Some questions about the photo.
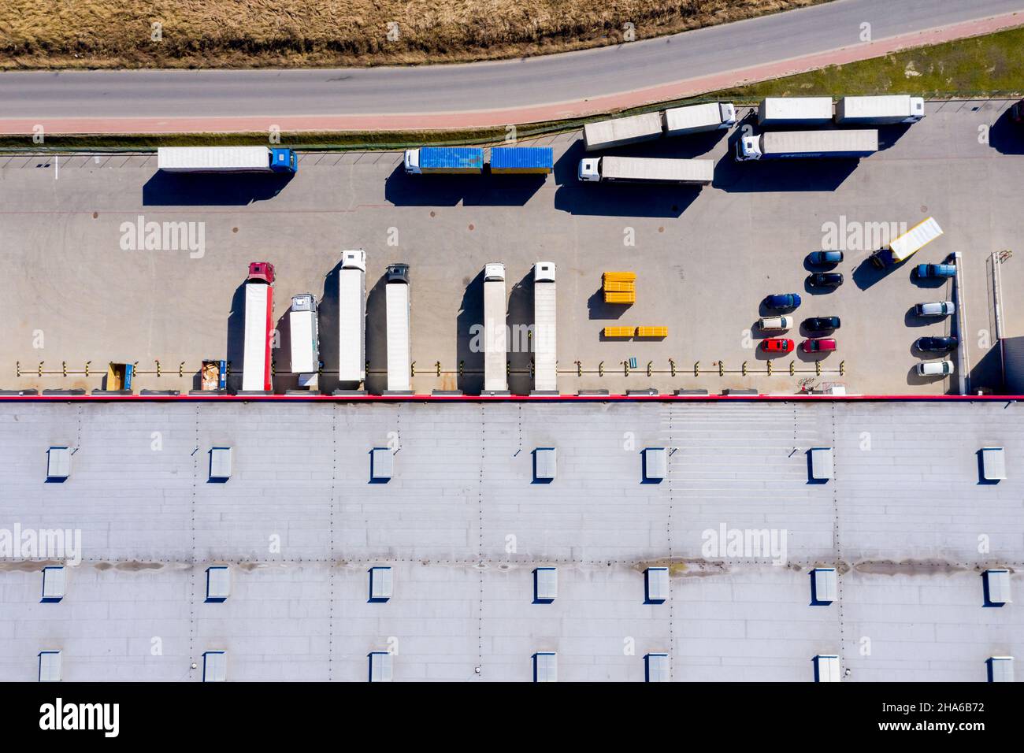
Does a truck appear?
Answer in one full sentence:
Yes, there's a truck here.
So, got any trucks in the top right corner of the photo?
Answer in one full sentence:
Yes, there is a truck in the top right corner of the photo.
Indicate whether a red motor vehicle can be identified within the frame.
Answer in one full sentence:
Yes, I can see a red motor vehicle in this picture.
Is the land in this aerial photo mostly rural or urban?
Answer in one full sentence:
This place is urban.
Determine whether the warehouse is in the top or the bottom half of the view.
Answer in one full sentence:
It is in the bottom half that the warehouse appears.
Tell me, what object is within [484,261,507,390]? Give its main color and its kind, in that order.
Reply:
white truck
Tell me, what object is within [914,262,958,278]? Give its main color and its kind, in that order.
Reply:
blue vehicle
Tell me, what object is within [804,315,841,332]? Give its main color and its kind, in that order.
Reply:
black car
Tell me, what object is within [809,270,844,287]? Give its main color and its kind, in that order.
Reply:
black car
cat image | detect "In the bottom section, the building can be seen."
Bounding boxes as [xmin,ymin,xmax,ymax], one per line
[0,336,1024,753]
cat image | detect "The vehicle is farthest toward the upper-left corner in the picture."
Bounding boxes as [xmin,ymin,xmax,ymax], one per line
[157,149,300,179]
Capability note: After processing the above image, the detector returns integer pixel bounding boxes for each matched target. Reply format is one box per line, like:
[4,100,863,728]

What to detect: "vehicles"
[915,335,958,353]
[157,149,300,179]
[533,262,557,390]
[243,263,277,390]
[579,157,714,189]
[808,248,844,265]
[758,314,794,332]
[290,295,320,388]
[761,337,794,354]
[914,299,954,317]
[386,263,413,390]
[1007,97,1024,124]
[804,315,841,332]
[915,359,953,376]
[404,148,553,176]
[581,103,737,150]
[734,130,879,163]
[809,270,844,287]
[339,249,367,384]
[801,337,838,354]
[764,291,801,309]
[914,262,958,278]
[484,261,507,390]
[865,216,943,273]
